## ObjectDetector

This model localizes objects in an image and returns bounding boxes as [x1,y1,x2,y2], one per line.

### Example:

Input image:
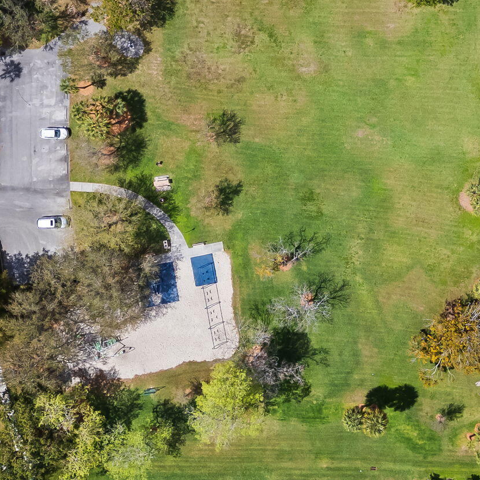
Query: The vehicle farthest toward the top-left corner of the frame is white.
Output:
[39,127,69,141]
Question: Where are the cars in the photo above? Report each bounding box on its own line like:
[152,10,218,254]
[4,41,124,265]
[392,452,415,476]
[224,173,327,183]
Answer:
[39,127,69,141]
[36,216,68,230]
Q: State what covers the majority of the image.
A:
grass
